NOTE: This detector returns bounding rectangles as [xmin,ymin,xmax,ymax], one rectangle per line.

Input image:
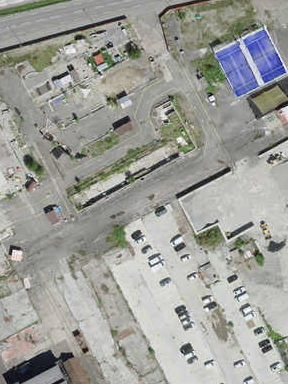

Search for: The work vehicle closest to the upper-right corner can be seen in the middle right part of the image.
[268,152,286,166]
